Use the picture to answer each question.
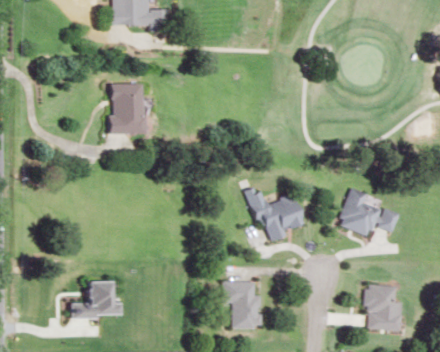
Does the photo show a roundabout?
No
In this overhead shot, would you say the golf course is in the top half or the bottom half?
top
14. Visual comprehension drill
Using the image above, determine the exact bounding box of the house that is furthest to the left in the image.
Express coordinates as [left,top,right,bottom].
[70,282,124,318]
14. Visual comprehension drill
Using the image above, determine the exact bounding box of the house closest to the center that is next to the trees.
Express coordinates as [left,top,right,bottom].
[243,190,304,242]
